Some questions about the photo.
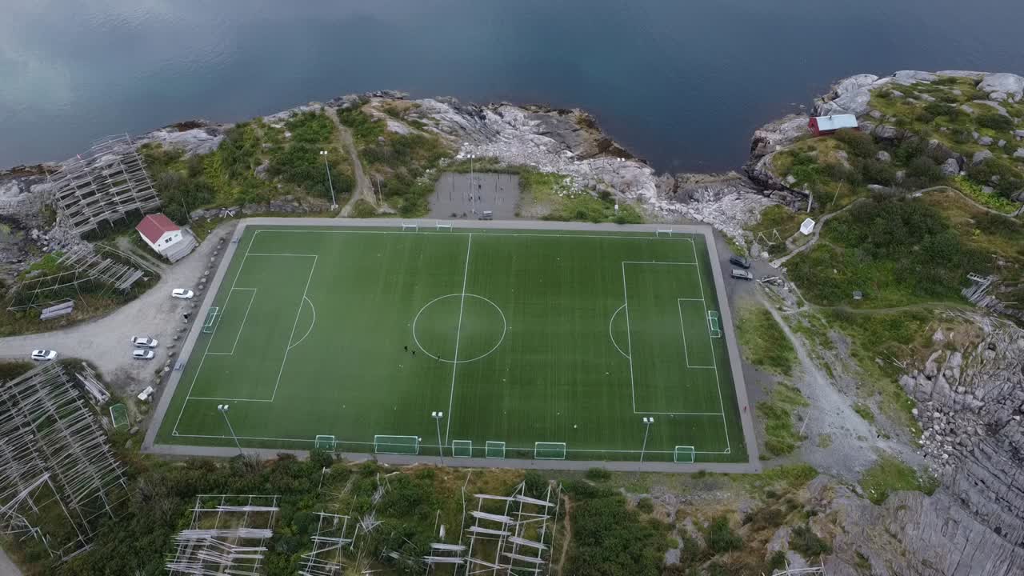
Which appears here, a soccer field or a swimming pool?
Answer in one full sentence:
Visible in the photo is a soccer field.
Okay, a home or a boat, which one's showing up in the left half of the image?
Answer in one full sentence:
Looking in the left half of the image, you will find a home.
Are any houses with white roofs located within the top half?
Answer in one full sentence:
Yes, I can see a house with a white roof within the top half.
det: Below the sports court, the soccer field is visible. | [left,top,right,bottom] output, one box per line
[139,217,760,474]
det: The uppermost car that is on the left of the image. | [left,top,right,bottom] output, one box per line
[170,288,193,300]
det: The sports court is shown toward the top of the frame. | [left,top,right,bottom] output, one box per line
[429,173,522,221]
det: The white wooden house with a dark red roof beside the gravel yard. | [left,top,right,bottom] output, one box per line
[136,214,198,264]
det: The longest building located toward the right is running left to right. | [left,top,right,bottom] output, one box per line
[809,112,857,137]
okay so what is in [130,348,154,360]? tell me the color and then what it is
white vehicle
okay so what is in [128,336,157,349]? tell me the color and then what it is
white vehicle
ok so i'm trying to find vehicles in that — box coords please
[128,336,157,349]
[732,268,753,280]
[170,288,193,300]
[130,348,154,360]
[730,254,751,267]
[29,350,55,361]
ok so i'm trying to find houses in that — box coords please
[136,214,198,264]
[809,112,857,137]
